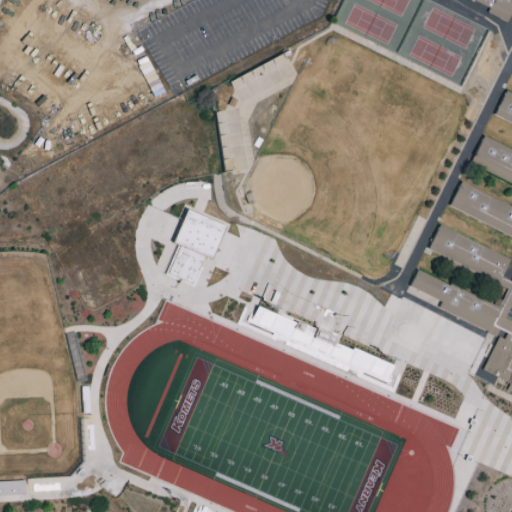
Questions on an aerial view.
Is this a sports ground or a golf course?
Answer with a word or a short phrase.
sports ground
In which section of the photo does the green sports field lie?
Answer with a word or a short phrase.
bottom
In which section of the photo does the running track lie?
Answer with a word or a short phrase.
bottom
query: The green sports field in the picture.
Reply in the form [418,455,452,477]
[126,346,406,512]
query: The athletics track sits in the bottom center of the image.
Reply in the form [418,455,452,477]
[103,302,458,512]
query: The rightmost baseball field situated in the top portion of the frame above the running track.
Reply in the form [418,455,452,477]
[246,28,464,280]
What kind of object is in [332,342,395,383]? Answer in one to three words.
building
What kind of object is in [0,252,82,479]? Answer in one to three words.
baseball field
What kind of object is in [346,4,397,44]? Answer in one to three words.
tennis court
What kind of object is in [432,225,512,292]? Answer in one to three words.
building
